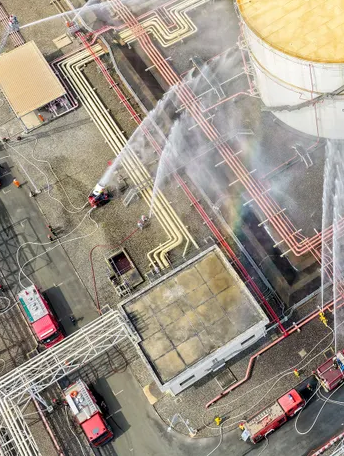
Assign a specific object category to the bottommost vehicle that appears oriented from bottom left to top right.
truck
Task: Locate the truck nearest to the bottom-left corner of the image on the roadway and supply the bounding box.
[64,380,115,455]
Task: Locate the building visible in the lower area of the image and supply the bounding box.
[119,246,267,391]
